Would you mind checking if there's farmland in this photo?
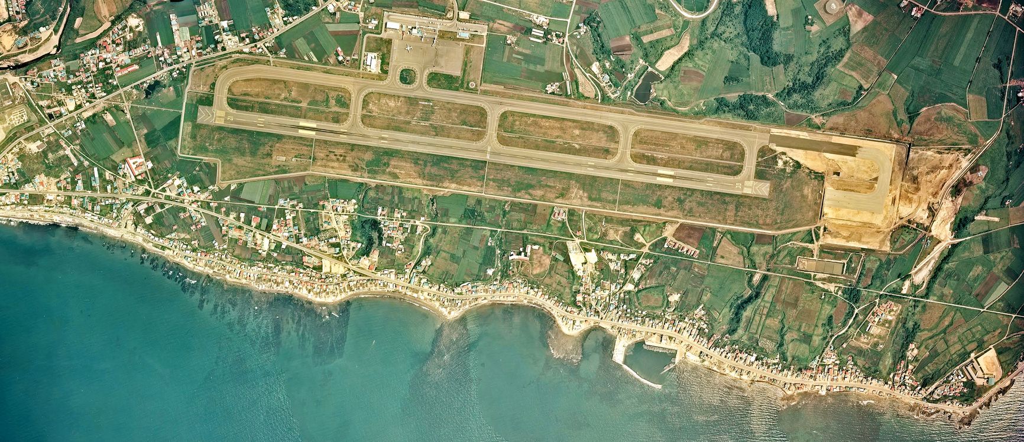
Yes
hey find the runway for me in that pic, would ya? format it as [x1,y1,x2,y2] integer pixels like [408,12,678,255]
[197,105,771,199]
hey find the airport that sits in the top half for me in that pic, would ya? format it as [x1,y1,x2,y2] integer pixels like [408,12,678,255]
[180,31,907,253]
